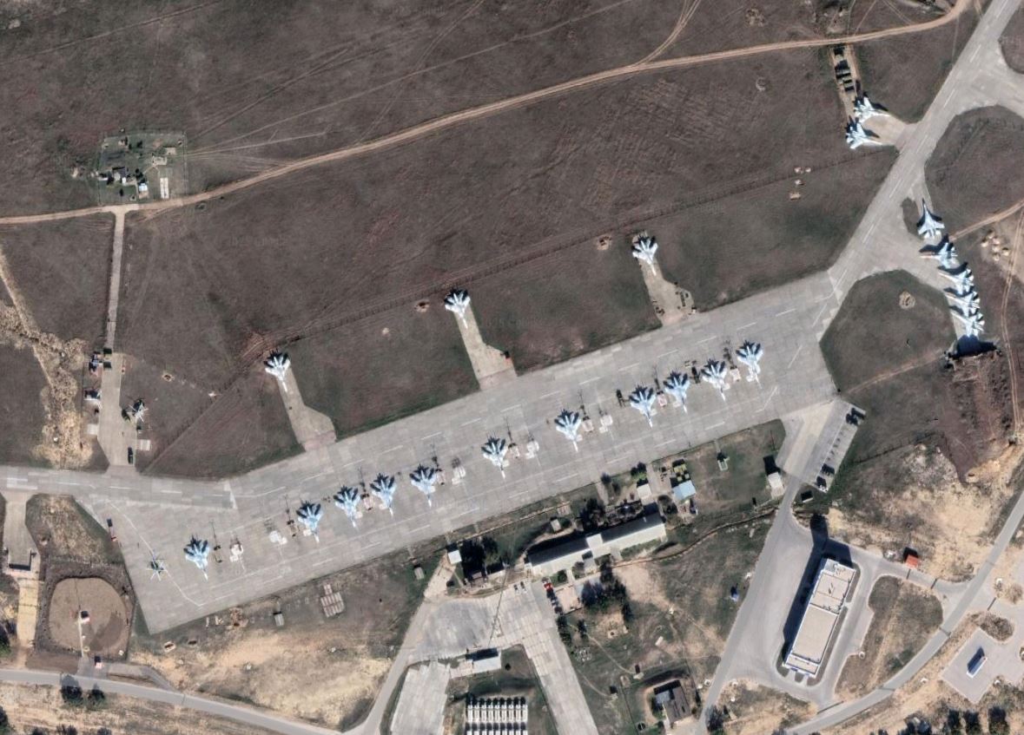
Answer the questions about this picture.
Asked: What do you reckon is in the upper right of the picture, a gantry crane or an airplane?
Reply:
airplane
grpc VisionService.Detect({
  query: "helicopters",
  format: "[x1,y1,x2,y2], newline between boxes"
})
[145,561,162,579]
[129,402,147,421]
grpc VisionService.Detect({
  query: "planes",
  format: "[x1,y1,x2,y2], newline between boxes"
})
[665,374,691,411]
[410,468,437,505]
[371,477,397,514]
[945,291,983,317]
[266,354,292,391]
[920,242,958,269]
[940,268,977,294]
[703,362,729,400]
[952,313,988,338]
[630,389,656,427]
[739,347,765,384]
[185,542,210,579]
[335,489,361,526]
[919,204,945,241]
[445,290,471,328]
[556,413,582,451]
[852,98,891,125]
[633,237,658,276]
[298,505,324,542]
[483,440,510,479]
[844,124,881,151]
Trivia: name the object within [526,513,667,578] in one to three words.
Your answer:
building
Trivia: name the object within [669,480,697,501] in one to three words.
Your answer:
building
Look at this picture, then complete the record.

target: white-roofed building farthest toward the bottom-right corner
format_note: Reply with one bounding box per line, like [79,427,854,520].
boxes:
[781,556,856,681]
